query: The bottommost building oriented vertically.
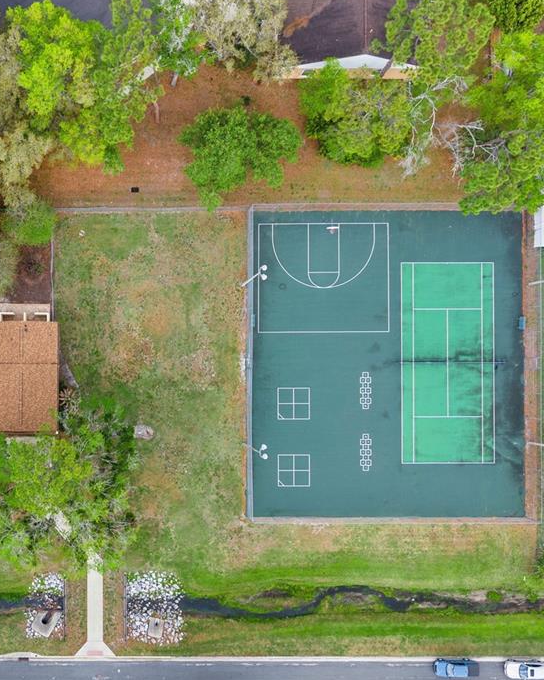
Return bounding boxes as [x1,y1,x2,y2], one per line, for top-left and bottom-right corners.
[0,312,60,437]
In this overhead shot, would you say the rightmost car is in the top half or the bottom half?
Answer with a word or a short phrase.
bottom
